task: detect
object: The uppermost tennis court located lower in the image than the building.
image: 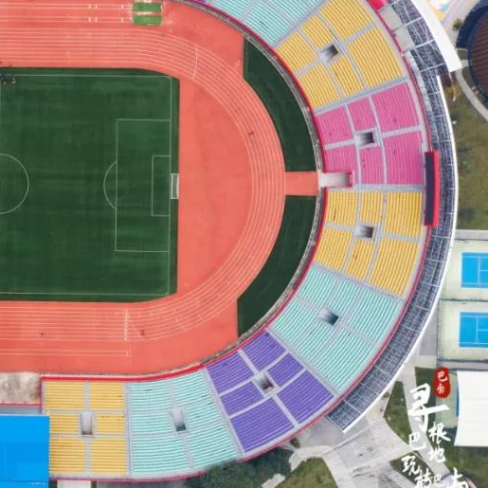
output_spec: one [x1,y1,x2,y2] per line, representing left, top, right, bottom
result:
[447,238,488,299]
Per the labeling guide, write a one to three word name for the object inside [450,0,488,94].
building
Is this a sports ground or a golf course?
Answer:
sports ground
